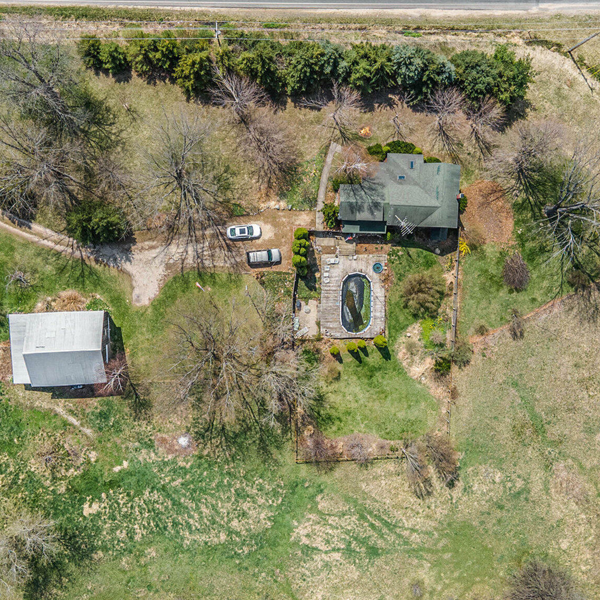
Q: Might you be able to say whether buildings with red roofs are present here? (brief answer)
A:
No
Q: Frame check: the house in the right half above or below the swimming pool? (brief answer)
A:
above it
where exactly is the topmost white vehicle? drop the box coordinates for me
[227,224,261,240]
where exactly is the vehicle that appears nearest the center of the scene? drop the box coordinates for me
[248,249,282,264]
